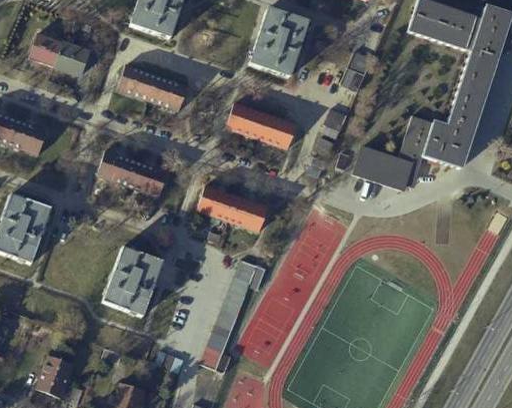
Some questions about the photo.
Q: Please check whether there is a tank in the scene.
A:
No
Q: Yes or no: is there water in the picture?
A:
No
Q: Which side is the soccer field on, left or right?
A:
right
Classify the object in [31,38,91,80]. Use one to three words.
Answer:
house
